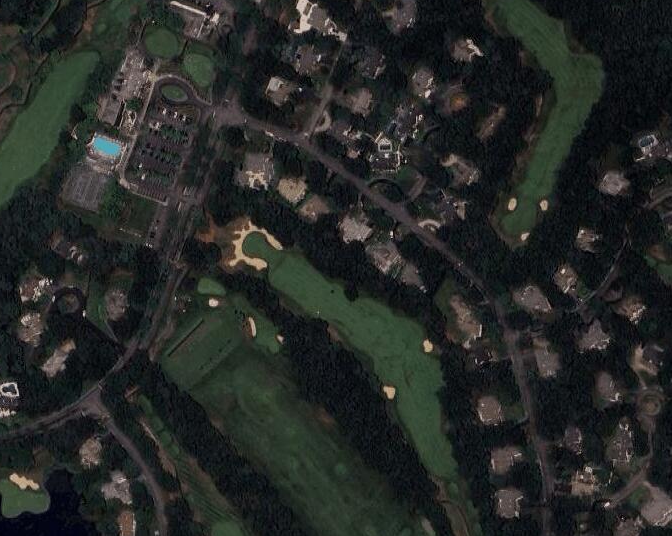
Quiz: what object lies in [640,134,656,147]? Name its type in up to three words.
swimming pool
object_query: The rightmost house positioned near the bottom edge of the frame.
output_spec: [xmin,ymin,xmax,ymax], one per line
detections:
[641,486,672,523]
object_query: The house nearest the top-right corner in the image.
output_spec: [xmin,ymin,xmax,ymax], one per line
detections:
[637,139,672,160]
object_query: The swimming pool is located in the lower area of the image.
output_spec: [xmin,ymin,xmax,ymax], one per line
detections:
[0,383,20,397]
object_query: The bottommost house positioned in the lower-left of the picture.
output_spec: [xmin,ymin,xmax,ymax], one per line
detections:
[118,513,136,536]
